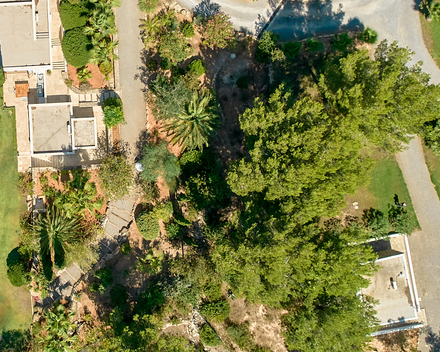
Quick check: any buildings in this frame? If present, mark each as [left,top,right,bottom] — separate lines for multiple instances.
[0,0,52,73]
[29,103,97,156]
[347,249,418,327]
